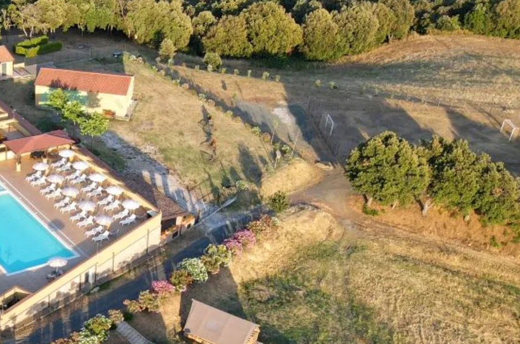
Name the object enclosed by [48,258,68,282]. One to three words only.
umbrella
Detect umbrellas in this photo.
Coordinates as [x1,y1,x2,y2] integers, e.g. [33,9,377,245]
[47,176,63,185]
[77,202,95,225]
[106,188,123,202]
[48,258,68,282]
[87,175,105,185]
[72,163,89,177]
[32,165,48,174]
[61,189,78,204]
[59,151,75,160]
[94,217,113,232]
[122,202,139,225]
